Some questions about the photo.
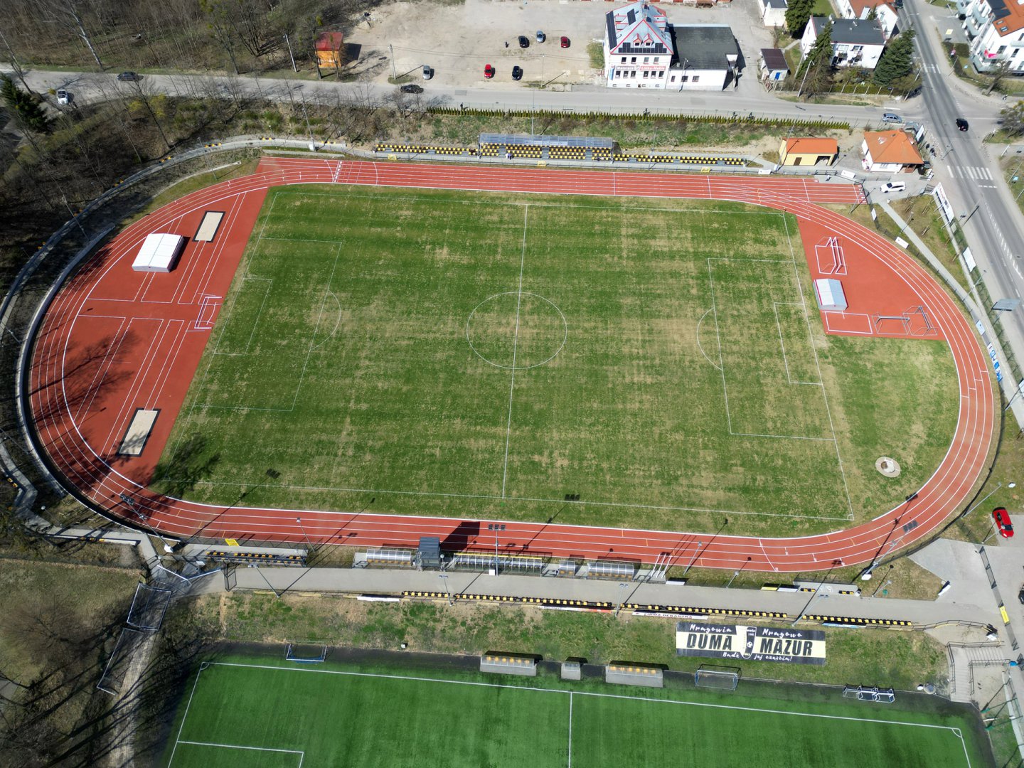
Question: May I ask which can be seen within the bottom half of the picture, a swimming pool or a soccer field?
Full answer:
You can see a soccer field within the bottom half of the picture.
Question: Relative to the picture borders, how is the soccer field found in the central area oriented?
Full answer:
In this picture, the soccer field found in the central area lies from side to side.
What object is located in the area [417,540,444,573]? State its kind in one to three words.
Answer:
building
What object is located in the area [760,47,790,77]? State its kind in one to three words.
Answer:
shed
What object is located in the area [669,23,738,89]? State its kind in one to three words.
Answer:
building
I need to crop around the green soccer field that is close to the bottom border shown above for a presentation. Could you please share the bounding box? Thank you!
[160,655,975,768]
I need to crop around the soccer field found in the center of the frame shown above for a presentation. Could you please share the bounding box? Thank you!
[150,183,960,538]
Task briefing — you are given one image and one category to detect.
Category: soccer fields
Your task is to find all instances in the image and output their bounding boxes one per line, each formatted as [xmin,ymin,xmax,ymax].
[160,655,975,768]
[150,183,960,538]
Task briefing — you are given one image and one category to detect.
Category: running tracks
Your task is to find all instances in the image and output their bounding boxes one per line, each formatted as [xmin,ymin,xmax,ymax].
[32,161,992,571]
